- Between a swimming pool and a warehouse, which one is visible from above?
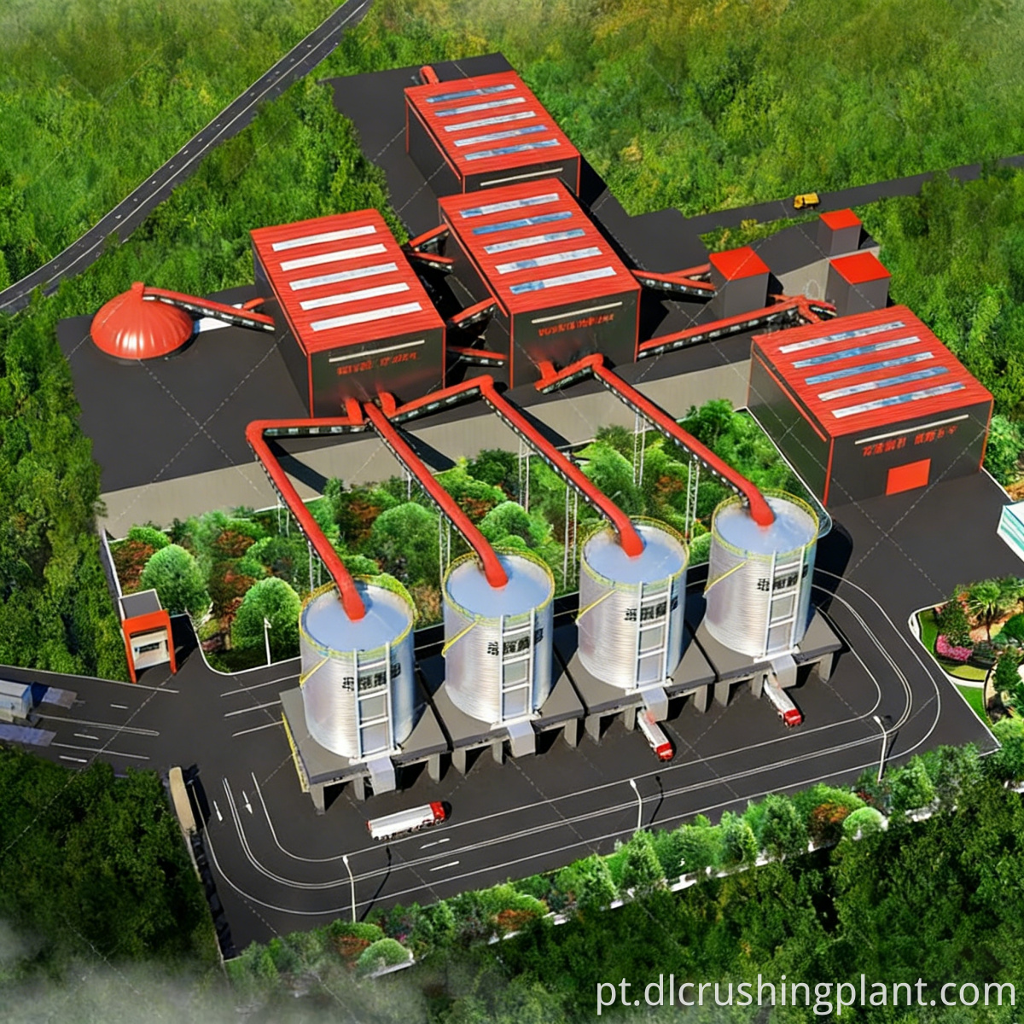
warehouse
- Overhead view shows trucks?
Yes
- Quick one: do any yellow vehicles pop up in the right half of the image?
Yes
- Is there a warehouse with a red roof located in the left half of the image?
Yes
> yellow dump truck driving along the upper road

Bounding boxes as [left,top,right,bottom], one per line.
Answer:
[793,188,820,205]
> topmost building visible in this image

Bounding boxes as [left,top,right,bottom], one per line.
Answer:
[403,71,581,204]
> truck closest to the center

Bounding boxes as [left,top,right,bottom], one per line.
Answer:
[636,705,677,758]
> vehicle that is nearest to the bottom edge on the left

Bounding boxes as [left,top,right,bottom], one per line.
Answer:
[367,792,449,839]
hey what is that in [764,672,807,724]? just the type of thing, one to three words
truck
